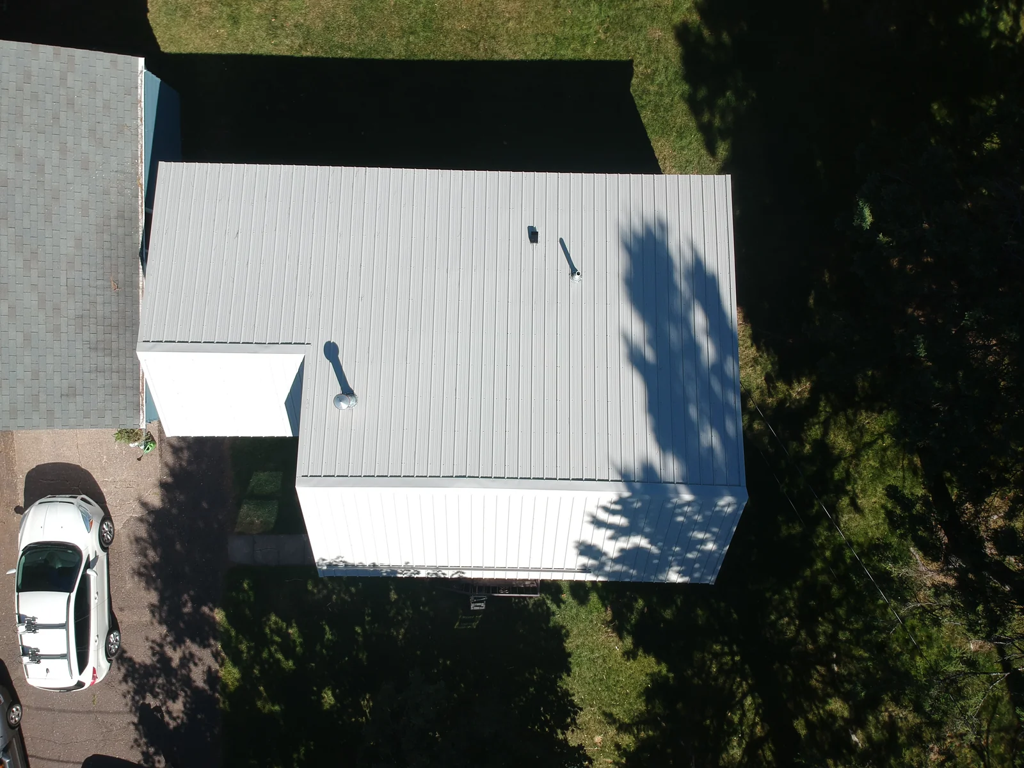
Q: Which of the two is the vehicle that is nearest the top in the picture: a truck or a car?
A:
car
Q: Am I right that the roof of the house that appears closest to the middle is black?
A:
No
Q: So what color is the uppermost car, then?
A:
white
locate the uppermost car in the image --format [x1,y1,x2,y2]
[7,499,119,691]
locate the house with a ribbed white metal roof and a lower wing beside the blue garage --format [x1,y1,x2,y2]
[134,161,749,585]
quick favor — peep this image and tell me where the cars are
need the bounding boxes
[0,687,26,768]
[7,499,119,691]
